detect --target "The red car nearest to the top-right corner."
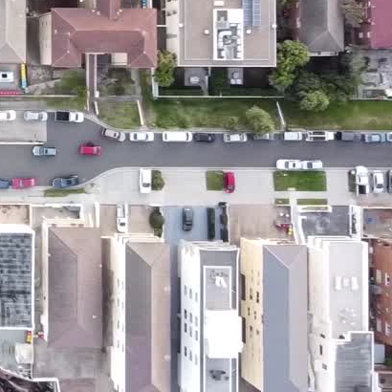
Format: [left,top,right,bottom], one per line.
[222,170,235,192]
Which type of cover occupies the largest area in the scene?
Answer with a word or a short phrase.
buildings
